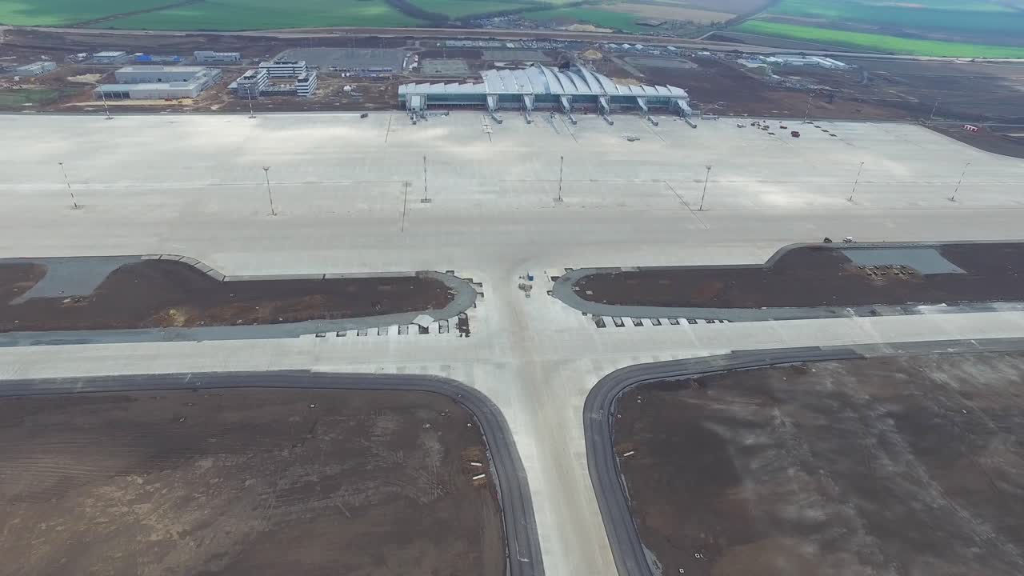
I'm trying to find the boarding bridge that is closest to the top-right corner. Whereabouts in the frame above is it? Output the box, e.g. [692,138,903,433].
[675,98,696,129]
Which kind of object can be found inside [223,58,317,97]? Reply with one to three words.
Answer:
building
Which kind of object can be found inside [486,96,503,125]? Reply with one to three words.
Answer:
jet bridge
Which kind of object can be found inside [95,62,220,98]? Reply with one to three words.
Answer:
building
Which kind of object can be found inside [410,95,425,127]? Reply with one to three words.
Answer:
jet bridge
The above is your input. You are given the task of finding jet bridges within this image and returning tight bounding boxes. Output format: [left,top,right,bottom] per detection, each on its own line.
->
[675,98,696,129]
[486,96,503,125]
[522,97,532,125]
[636,99,658,126]
[597,98,613,126]
[558,97,576,126]
[410,95,425,127]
